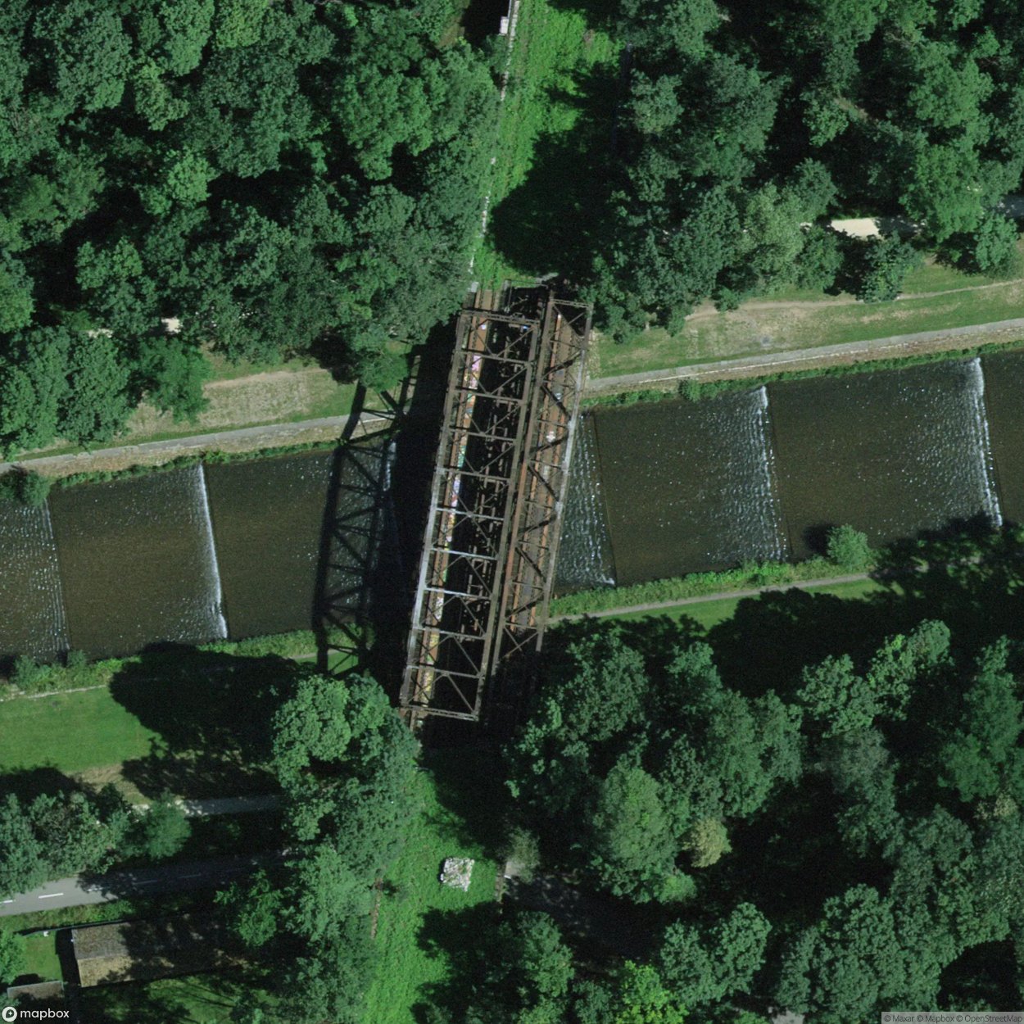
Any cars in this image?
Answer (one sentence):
No, the frame has no car in it.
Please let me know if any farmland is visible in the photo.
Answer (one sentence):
No, no farmland is visible.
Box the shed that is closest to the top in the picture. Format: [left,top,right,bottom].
[72,911,251,990]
